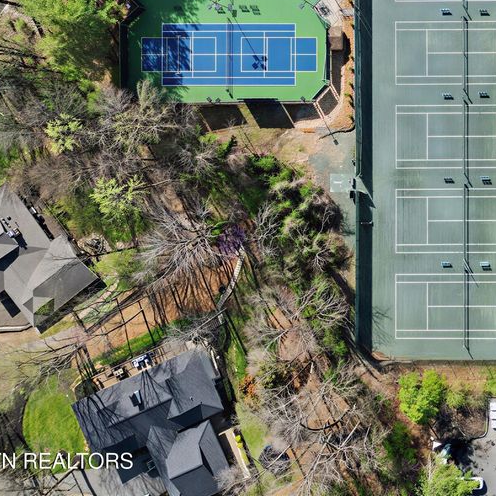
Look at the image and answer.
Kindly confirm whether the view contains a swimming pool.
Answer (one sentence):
No, I can't see a single swimming pool in this photo.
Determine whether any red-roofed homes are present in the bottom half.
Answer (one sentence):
No, no red-roofed home appears in the bottom half.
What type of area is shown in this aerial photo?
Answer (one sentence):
This image shows a sports ground.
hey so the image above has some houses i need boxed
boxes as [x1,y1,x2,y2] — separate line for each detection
[71,341,236,496]
[0,183,105,328]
